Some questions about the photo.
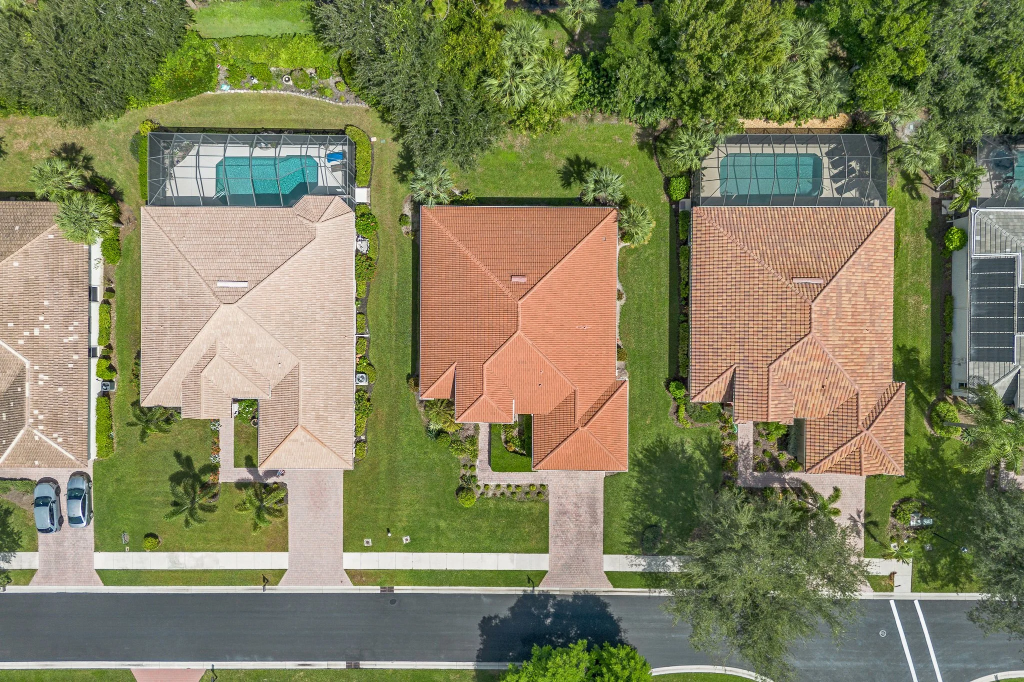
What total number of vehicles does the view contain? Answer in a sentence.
The number of vehicles here is 2.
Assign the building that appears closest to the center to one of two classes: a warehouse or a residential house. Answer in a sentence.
Looking closely, the building that appears closest to the center is a residential house.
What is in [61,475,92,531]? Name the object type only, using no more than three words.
car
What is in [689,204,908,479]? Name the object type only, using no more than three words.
house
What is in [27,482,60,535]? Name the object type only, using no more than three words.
car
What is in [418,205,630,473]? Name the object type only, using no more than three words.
house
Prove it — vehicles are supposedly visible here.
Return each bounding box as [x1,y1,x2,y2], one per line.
[27,482,60,535]
[61,475,92,531]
